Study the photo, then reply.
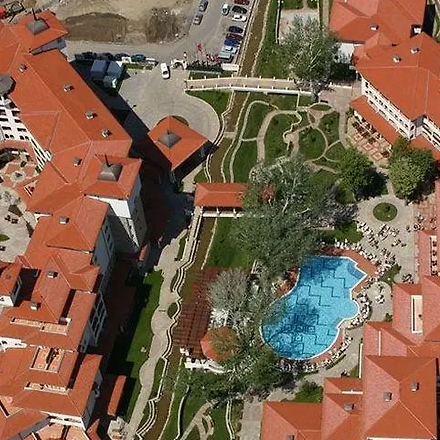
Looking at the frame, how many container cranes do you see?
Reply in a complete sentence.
The count of container cranes is 0.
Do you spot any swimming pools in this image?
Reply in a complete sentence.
Yes, the frame does contain a swimming pool.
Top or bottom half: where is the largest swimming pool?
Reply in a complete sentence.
The largest swimming pool is in the bottom half of the image.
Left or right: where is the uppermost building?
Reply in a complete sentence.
The uppermost building sits on the left side.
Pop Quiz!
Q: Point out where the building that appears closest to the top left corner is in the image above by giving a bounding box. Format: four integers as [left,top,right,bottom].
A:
[9,10,72,64]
